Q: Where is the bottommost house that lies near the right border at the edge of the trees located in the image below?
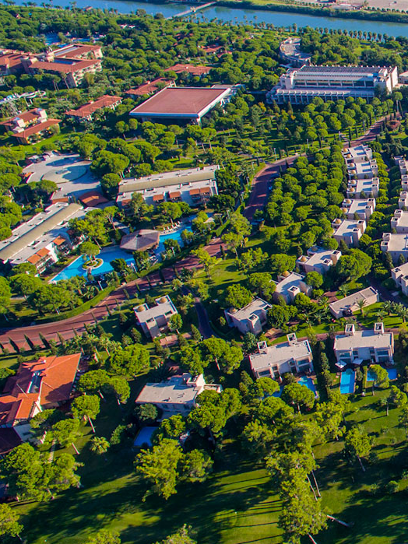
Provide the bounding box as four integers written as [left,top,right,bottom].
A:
[332,325,395,364]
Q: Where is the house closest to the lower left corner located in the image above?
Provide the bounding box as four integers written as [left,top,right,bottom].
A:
[135,383,197,418]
